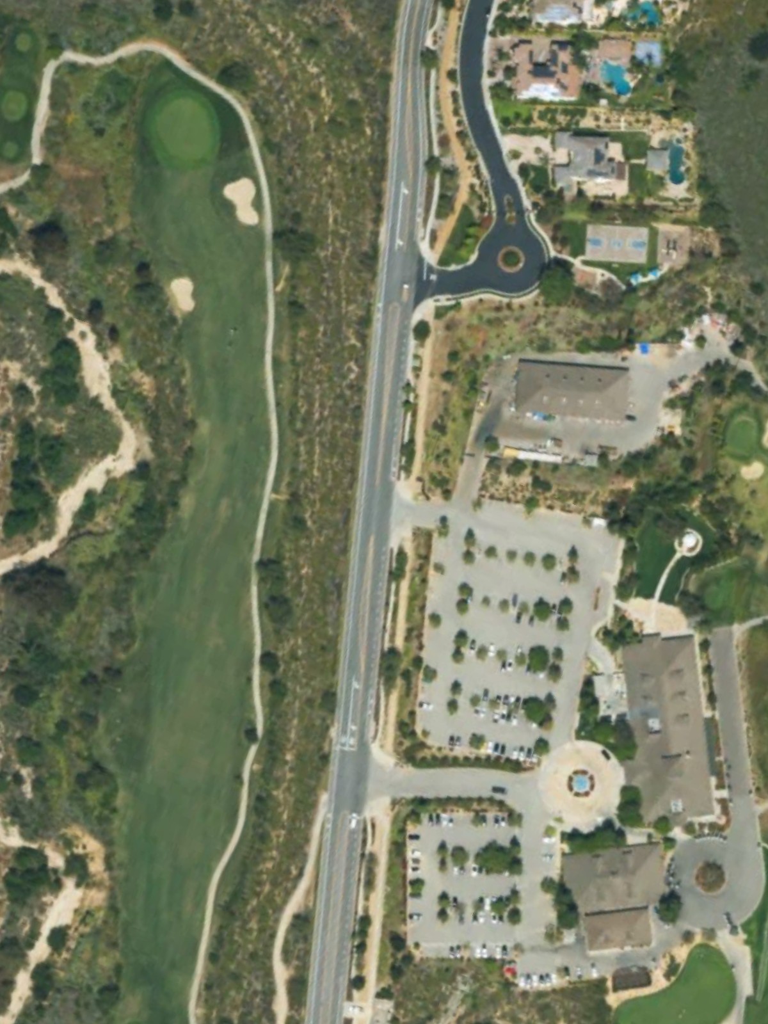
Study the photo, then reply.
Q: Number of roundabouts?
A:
3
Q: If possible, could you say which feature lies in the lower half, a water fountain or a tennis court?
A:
water fountain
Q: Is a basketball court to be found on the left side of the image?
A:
No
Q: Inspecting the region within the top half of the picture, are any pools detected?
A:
Yes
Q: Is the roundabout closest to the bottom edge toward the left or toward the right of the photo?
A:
right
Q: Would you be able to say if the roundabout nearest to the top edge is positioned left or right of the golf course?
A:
on its right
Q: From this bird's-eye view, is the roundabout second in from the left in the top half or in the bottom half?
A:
bottom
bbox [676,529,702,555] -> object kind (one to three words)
gazebo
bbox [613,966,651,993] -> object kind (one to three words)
shed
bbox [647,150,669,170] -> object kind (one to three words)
building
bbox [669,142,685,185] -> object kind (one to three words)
swimming pool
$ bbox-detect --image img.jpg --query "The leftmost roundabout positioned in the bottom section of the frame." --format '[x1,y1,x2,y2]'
[538,740,624,826]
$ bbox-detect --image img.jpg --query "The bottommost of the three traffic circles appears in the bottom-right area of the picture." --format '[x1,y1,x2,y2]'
[667,812,765,932]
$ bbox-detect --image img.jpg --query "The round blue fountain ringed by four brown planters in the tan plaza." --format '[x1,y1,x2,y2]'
[567,770,595,797]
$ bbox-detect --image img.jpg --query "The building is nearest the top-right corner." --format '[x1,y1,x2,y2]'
[635,41,662,66]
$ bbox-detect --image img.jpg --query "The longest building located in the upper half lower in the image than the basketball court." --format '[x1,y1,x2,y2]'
[516,362,629,421]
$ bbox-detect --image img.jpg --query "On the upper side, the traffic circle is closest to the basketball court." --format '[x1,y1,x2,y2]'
[483,230,540,287]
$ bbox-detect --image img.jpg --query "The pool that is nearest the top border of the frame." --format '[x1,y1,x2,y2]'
[629,0,660,26]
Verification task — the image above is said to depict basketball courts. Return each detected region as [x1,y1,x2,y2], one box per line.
[586,225,648,264]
